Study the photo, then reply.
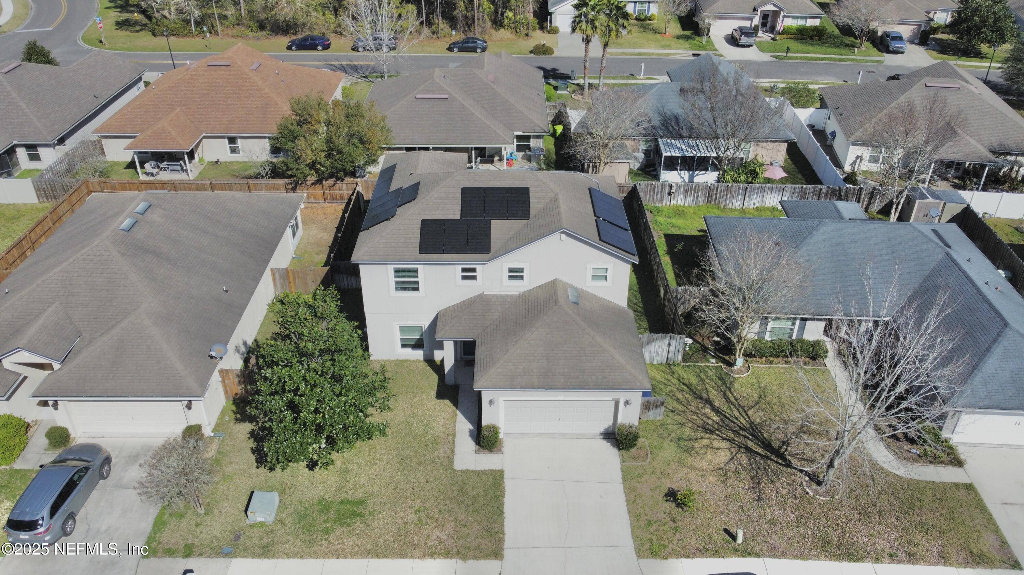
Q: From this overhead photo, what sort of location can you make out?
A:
residential area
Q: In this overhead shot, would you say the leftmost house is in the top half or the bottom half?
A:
top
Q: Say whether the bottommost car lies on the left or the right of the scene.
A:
left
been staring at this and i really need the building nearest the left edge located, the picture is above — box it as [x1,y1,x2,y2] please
[0,48,146,177]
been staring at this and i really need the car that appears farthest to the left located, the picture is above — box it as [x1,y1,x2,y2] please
[4,448,110,551]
